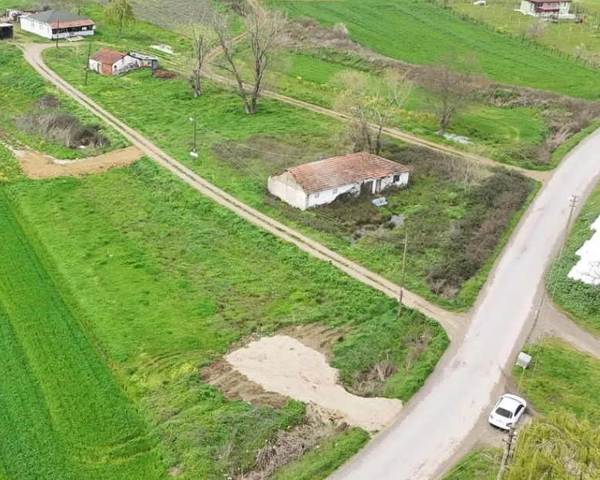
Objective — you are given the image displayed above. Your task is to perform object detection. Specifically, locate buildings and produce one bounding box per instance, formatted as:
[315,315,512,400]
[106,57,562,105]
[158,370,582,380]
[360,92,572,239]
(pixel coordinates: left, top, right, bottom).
[269,145,417,209]
[35,7,102,39]
[0,22,16,39]
[84,44,143,75]
[520,0,577,18]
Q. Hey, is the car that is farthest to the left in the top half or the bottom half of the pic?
bottom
